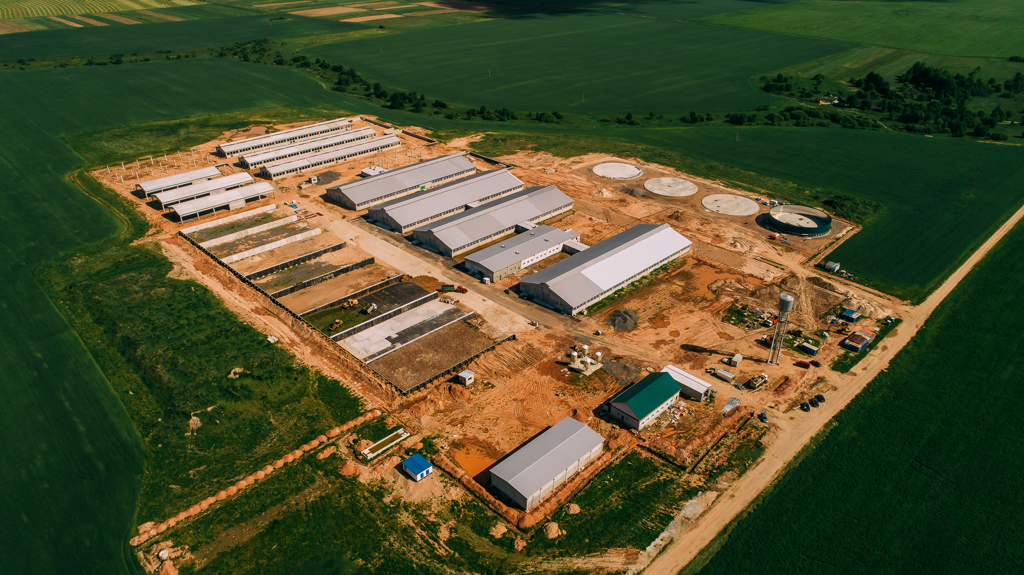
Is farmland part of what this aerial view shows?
Yes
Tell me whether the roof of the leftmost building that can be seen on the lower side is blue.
Yes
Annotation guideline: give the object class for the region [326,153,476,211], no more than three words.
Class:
barn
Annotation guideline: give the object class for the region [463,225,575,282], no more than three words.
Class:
building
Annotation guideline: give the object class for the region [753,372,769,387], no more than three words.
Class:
vehicle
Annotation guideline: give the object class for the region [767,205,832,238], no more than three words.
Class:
storage tank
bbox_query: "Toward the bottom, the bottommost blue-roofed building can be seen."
[403,455,433,481]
